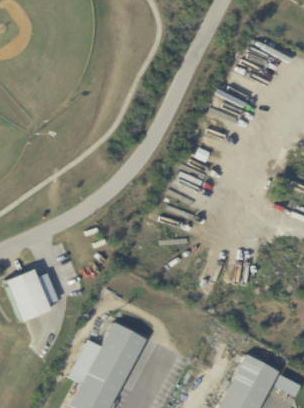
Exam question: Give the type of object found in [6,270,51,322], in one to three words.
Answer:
building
